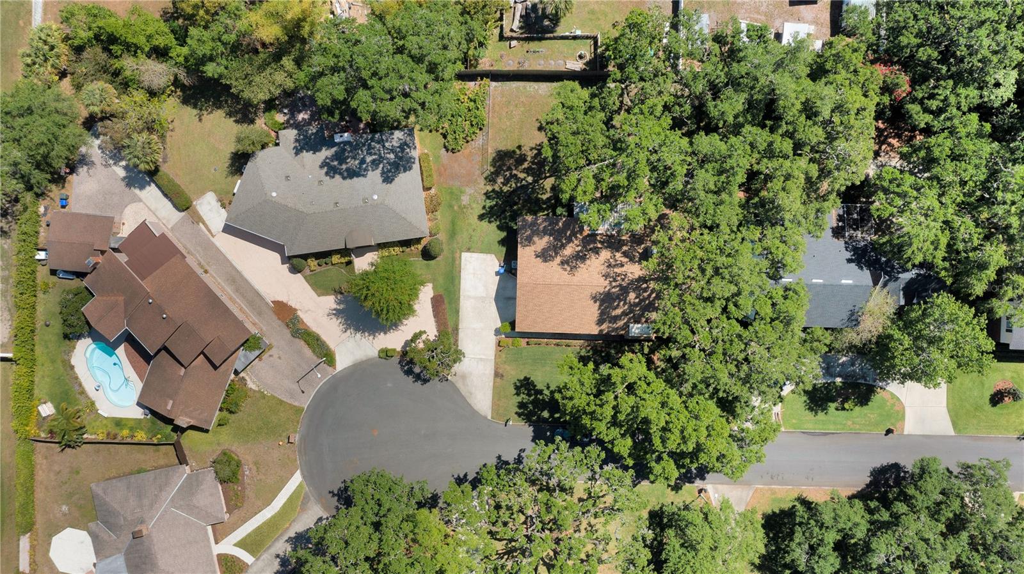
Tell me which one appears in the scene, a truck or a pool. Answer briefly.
pool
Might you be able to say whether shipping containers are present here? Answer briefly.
No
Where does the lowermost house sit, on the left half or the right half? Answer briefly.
left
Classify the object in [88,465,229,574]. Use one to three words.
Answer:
house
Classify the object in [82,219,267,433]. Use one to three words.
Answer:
house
